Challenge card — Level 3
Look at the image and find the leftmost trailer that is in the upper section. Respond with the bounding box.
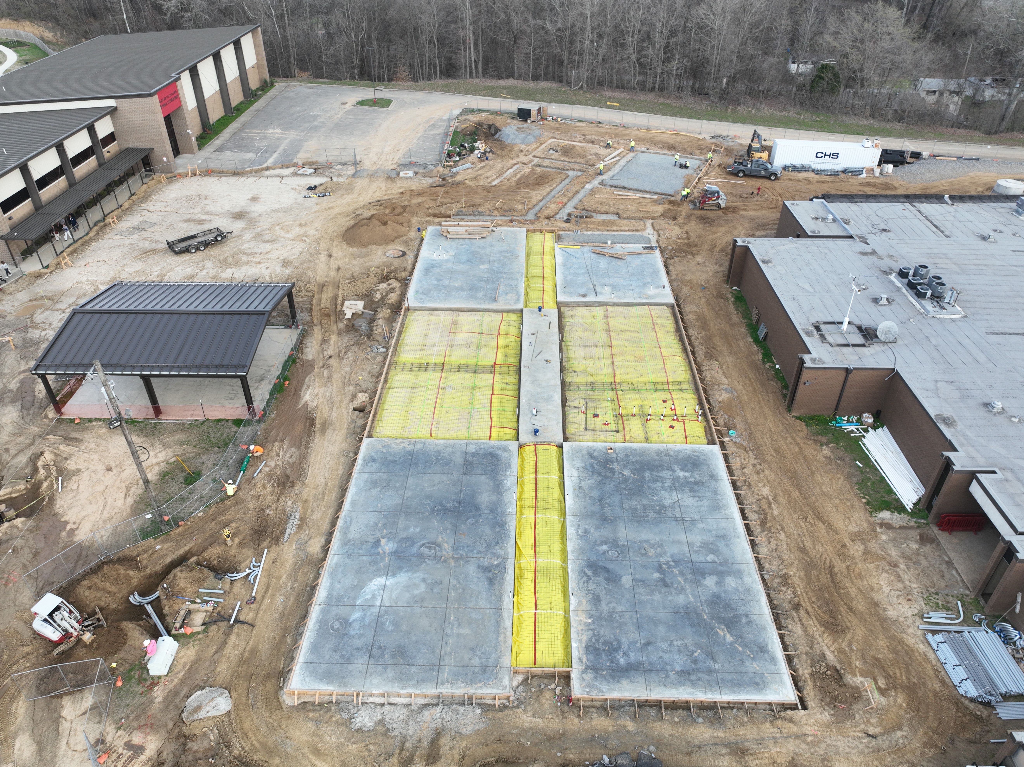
[162,225,231,248]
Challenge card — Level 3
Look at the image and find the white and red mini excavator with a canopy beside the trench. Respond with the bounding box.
[21,596,106,662]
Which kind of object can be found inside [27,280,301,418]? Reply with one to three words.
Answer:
building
